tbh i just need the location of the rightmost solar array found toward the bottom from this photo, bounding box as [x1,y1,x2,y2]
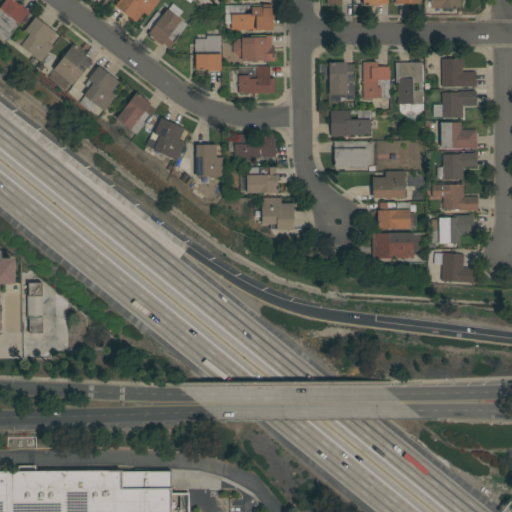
[67,493,86,511]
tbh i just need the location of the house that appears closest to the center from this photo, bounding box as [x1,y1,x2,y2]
[254,198,295,230]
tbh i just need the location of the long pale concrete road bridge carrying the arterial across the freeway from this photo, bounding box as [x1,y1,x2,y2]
[176,382,424,420]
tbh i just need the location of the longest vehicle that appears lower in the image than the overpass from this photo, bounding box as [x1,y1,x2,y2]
[394,446,424,470]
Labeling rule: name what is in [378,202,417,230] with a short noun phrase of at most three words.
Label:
house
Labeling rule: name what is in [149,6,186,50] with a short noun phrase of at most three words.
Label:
house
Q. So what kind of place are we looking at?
residential area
